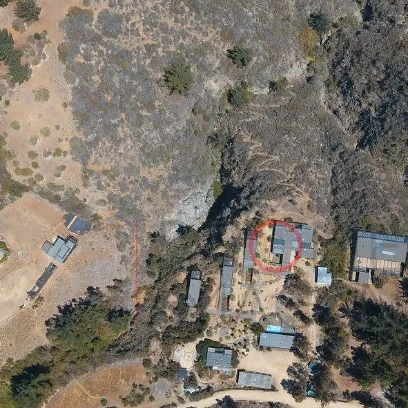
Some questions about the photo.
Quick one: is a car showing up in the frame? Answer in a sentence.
No, no car can be seen from above.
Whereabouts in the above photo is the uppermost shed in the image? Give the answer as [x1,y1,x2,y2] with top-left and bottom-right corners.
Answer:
[65,213,94,234]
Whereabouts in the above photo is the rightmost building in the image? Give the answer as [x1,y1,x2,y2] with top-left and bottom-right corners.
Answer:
[352,231,408,284]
